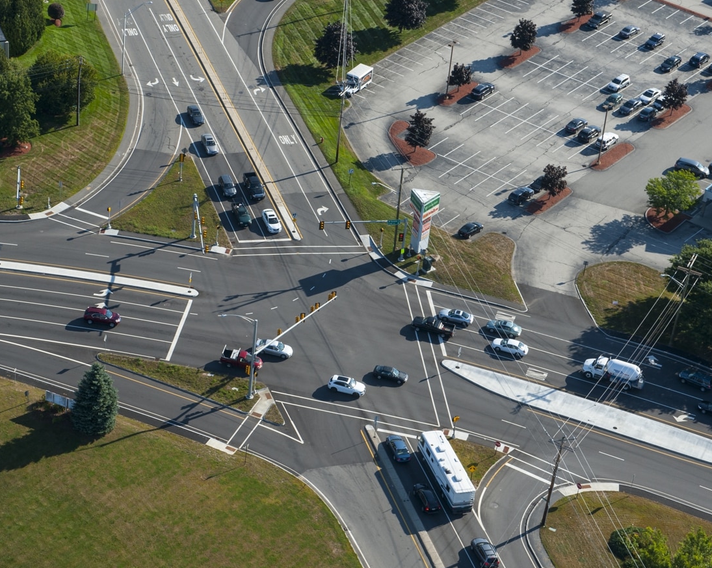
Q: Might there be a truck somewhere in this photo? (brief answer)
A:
Yes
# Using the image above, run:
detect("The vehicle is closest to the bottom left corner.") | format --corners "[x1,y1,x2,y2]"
[83,304,122,327]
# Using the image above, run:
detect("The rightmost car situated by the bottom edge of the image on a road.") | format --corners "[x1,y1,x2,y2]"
[472,539,499,568]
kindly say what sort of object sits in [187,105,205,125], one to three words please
car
